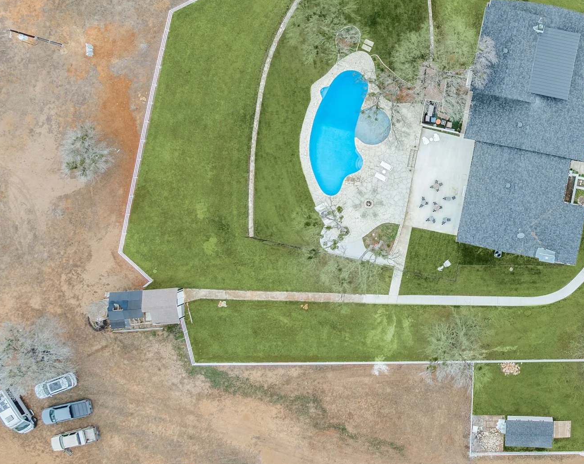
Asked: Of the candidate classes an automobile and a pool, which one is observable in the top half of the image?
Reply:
pool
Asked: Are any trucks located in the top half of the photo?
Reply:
No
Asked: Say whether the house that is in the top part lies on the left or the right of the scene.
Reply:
right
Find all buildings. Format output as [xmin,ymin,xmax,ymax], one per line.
[505,416,553,448]
[455,0,584,265]
[102,287,186,331]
